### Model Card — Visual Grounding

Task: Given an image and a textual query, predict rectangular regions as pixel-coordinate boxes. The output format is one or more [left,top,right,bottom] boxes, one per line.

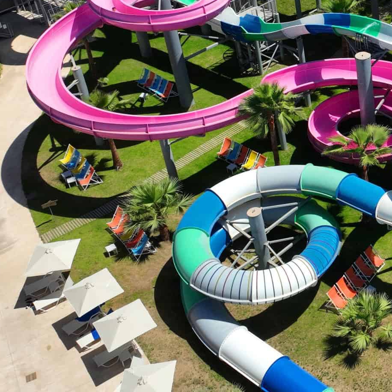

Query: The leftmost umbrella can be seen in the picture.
[27,239,81,296]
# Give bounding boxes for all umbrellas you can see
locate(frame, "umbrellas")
[122,358,174,392]
[93,300,157,366]
[27,239,81,296]
[62,269,125,319]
